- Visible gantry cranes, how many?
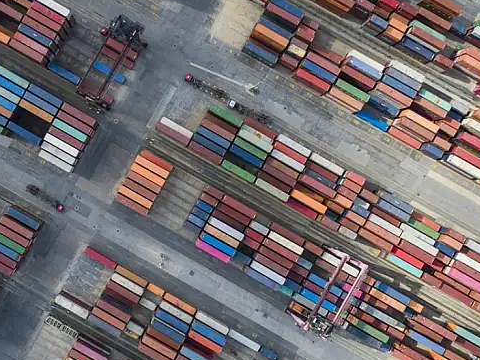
2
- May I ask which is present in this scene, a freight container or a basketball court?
freight container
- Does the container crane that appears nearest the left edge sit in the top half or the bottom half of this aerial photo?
top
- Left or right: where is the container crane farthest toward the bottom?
right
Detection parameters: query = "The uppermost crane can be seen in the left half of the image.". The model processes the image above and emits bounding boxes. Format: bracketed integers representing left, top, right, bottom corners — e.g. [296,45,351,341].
[75,17,149,113]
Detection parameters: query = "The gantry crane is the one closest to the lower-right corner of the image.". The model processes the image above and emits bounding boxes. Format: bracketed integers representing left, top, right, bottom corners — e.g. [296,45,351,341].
[283,239,372,340]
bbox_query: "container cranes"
[283,239,372,340]
[75,17,149,113]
